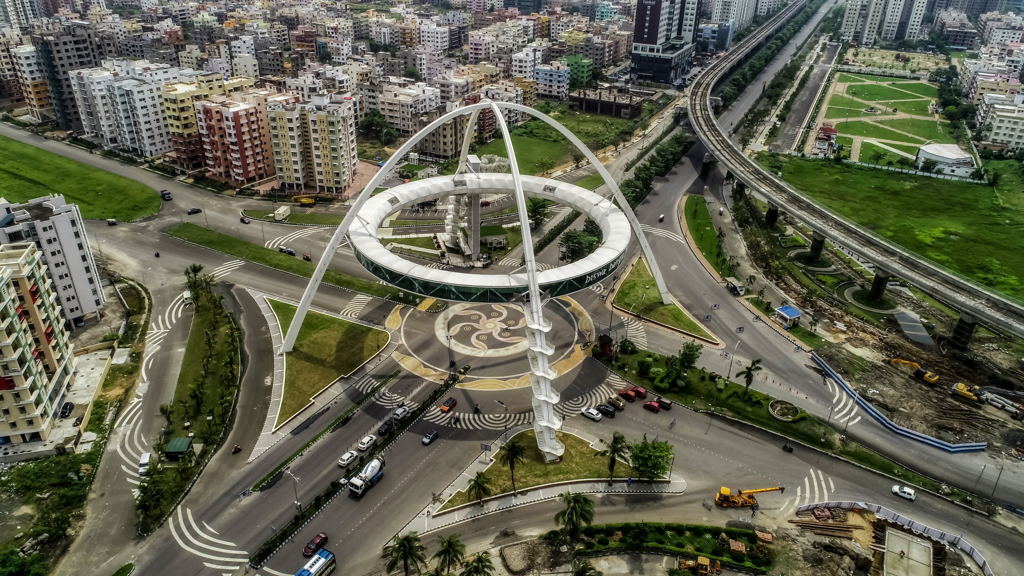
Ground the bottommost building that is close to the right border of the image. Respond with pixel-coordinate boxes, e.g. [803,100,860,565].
[907,141,997,182]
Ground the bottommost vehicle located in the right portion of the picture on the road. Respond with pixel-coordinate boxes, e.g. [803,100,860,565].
[678,554,724,576]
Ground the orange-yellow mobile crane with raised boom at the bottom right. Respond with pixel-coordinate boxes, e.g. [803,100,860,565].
[717,487,788,509]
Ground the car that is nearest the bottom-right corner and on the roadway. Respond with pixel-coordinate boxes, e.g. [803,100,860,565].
[893,485,917,499]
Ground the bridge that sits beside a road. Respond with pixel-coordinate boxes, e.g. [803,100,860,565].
[688,0,1024,355]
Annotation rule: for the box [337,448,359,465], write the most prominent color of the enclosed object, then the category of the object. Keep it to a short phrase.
white car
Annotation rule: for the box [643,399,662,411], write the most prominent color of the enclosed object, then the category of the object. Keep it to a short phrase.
red vehicle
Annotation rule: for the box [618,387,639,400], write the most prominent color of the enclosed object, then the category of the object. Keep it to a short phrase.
red vehicle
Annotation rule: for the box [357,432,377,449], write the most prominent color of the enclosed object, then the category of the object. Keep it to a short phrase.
white car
